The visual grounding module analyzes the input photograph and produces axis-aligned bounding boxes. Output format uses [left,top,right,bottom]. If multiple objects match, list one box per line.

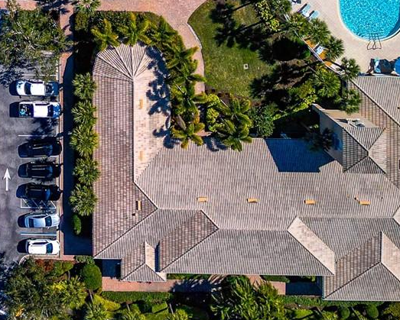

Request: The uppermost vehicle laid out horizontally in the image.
[17,81,57,98]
